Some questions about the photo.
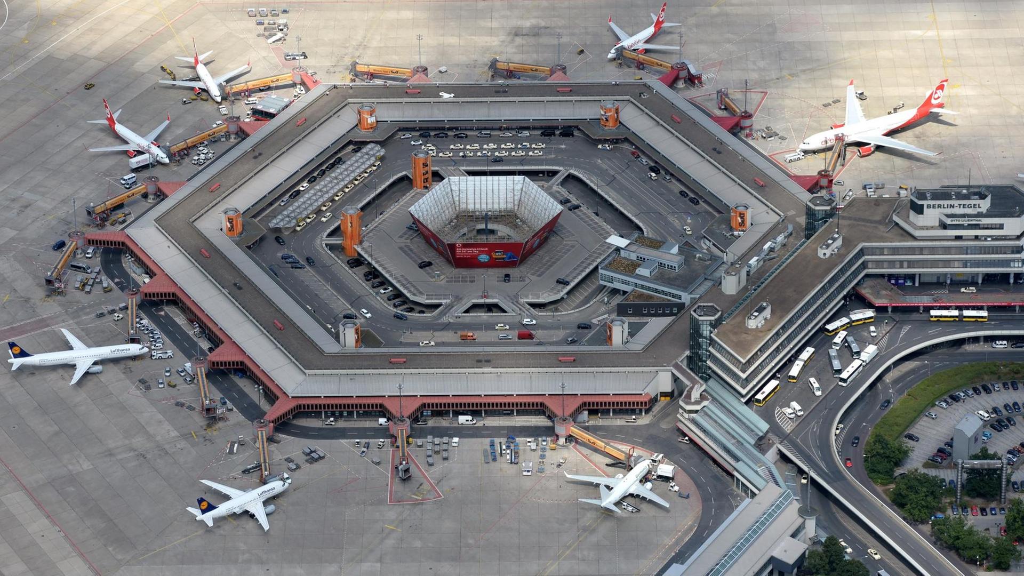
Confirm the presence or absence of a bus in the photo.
Yes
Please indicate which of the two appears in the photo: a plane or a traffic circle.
plane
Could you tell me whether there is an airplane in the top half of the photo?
Yes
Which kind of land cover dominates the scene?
paved ground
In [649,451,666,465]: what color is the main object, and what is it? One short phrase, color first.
white vehicle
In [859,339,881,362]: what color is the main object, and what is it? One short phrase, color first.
white truck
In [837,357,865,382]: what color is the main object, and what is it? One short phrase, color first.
white bus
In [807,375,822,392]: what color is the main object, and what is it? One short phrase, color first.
white vehicle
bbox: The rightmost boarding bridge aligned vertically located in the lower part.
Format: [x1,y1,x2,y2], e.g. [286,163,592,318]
[395,428,413,476]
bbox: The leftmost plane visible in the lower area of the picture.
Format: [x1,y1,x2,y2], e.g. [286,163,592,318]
[9,328,149,386]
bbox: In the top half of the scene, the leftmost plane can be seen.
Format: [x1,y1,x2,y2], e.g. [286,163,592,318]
[88,102,174,165]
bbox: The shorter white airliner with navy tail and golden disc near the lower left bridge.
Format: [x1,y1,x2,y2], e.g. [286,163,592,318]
[182,478,289,529]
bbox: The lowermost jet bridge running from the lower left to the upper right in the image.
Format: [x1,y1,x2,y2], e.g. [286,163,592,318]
[45,239,80,285]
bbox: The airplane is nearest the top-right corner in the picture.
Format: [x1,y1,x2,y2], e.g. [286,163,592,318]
[798,80,959,157]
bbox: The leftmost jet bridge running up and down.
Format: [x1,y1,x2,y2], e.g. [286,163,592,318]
[126,297,141,345]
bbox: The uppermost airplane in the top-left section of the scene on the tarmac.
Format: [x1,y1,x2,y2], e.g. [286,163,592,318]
[157,39,252,104]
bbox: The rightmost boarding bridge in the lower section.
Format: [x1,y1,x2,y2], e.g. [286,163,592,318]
[566,425,637,474]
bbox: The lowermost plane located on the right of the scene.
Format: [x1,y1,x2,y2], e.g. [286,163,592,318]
[566,459,672,517]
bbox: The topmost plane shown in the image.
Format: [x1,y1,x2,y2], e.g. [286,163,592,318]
[604,2,683,61]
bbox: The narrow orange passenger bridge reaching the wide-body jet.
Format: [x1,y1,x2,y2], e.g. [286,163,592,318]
[824,130,848,173]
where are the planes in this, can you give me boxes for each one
[157,39,252,104]
[566,459,672,517]
[9,328,149,386]
[604,2,683,61]
[798,80,959,157]
[182,478,289,529]
[88,102,174,165]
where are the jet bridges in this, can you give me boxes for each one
[221,71,296,103]
[162,122,230,159]
[566,425,637,474]
[45,239,80,285]
[395,428,413,476]
[196,367,217,418]
[126,297,141,345]
[86,183,149,219]
[824,130,848,173]
[486,62,552,83]
[616,47,673,74]
[347,64,413,84]
[256,429,274,485]
[715,88,745,117]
